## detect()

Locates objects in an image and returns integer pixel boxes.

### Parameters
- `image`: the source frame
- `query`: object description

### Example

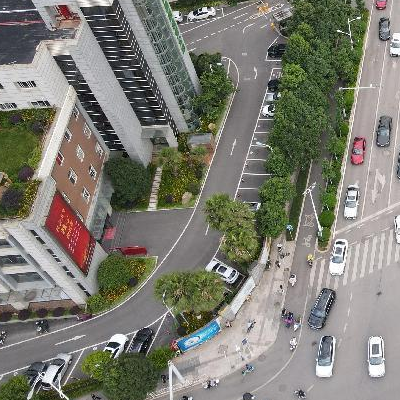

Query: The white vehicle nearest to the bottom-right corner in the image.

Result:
[366,336,386,379]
